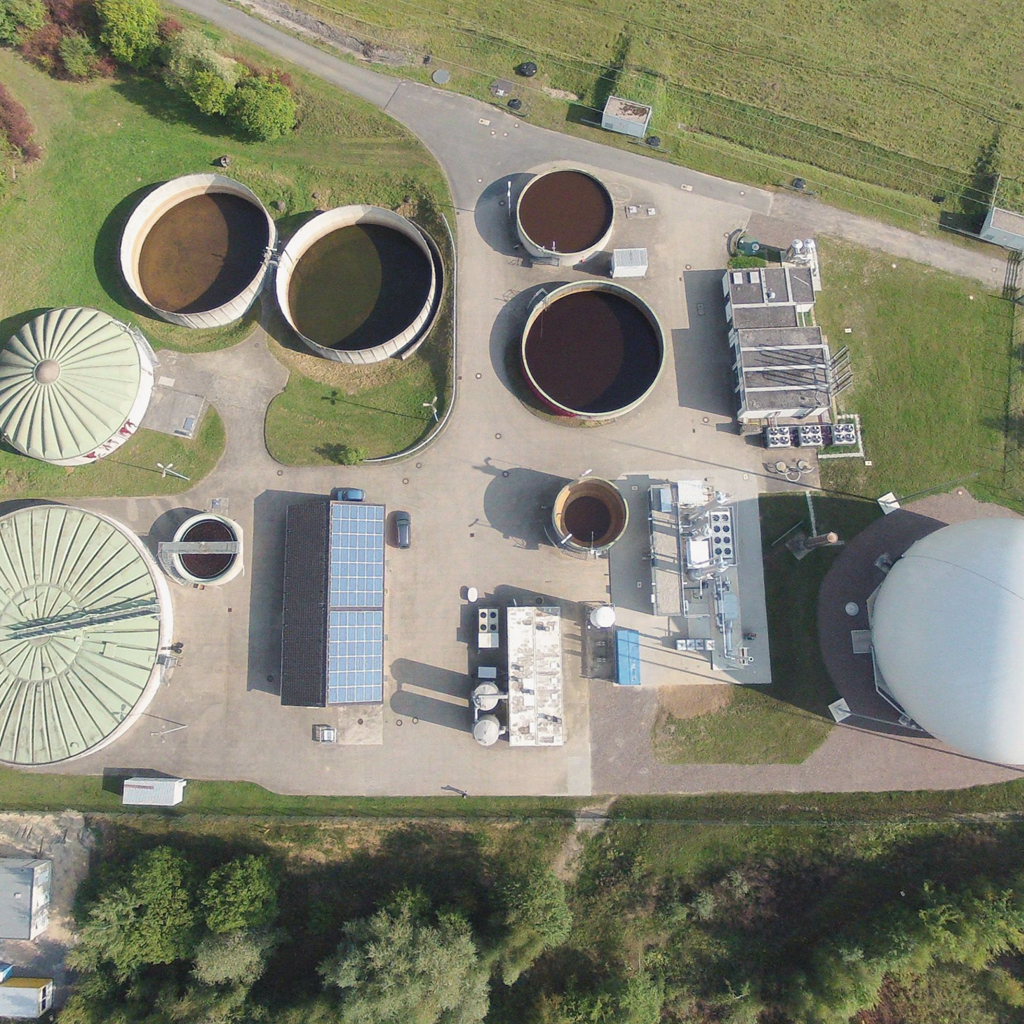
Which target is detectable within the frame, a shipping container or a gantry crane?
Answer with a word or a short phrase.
shipping container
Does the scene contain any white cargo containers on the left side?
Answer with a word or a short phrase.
Yes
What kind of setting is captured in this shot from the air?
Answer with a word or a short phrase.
industrial area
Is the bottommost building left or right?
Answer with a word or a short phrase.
left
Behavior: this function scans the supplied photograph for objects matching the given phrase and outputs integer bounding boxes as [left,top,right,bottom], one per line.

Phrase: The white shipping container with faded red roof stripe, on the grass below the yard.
[122,776,191,806]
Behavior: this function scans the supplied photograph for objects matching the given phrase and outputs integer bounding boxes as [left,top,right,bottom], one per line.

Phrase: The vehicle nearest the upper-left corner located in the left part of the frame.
[337,488,367,503]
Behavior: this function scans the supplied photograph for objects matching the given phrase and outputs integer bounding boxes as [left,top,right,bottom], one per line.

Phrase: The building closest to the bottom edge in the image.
[0,975,56,1018]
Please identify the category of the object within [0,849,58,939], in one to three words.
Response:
shed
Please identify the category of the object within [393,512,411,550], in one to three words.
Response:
car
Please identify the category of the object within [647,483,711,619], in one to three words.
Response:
building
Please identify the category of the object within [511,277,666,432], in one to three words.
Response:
storage tank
